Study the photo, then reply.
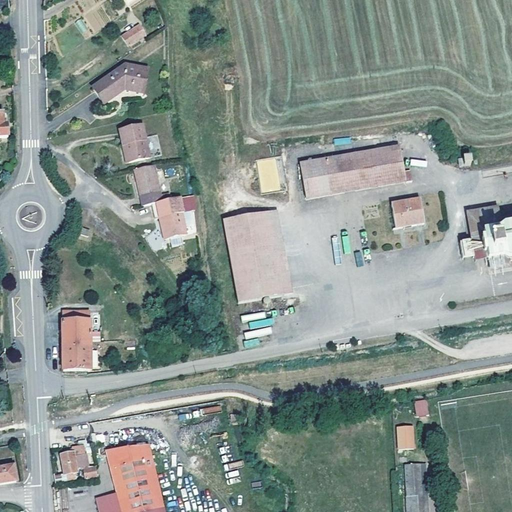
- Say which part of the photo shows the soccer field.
bottom right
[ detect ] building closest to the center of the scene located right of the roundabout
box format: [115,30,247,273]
[222,209,292,306]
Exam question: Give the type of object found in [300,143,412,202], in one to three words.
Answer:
building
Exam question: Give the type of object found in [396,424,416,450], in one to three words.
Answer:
shed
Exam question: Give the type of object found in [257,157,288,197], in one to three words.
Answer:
building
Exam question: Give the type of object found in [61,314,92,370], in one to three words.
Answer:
house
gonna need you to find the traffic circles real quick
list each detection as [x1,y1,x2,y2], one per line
[16,202,46,232]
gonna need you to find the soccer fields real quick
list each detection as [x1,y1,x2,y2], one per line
[443,392,512,512]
